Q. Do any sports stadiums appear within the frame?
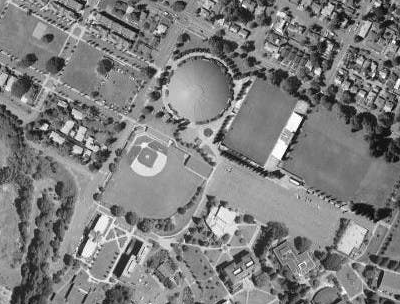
Yes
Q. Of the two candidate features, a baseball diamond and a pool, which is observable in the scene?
baseball diamond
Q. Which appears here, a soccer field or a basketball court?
soccer field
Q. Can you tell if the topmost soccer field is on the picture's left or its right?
right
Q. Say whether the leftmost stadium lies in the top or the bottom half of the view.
top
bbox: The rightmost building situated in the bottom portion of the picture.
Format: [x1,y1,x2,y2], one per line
[337,220,368,259]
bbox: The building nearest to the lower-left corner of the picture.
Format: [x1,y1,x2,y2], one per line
[77,213,109,257]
